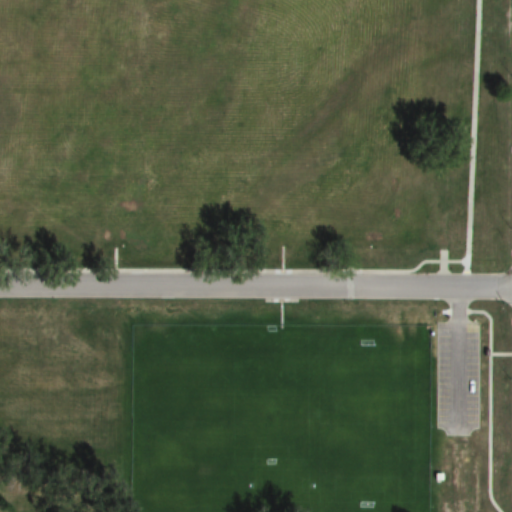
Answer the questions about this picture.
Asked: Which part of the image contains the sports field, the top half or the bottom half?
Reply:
bottom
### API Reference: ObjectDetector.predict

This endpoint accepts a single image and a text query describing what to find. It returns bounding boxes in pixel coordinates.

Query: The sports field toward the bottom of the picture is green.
[134,324,432,512]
